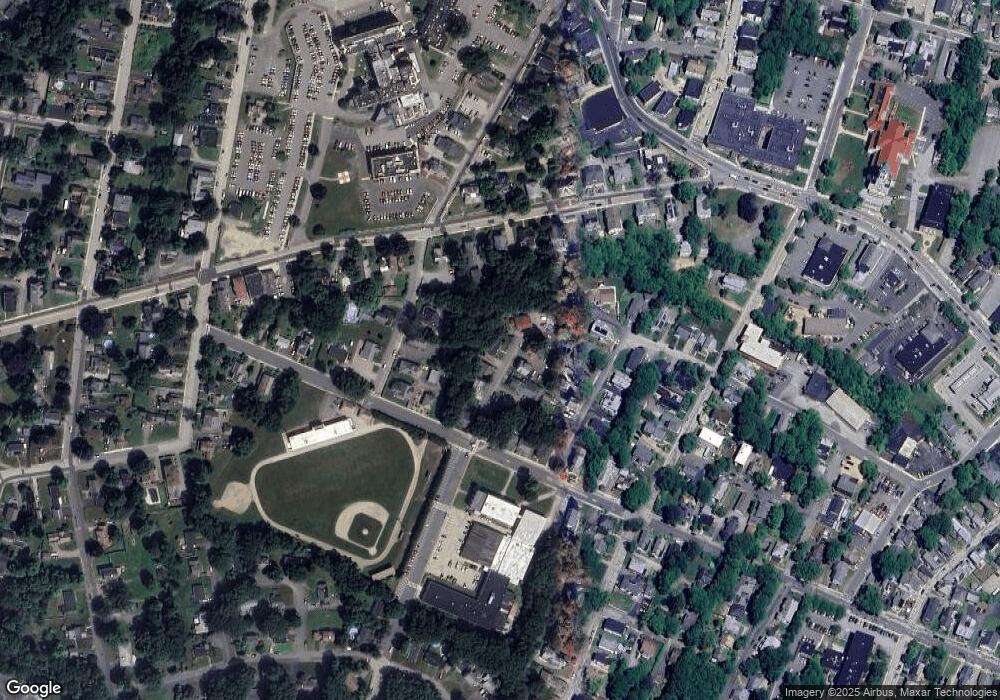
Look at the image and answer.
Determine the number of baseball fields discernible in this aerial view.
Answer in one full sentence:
Just 1 baseball field appears in this view.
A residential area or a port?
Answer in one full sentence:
This looks like a residential area.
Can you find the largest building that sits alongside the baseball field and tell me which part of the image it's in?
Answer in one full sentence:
You can find the largest building that sits alongside the baseball field in the bottom area of the picture.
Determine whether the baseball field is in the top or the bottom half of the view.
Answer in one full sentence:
You can find the baseball field in the bottom half.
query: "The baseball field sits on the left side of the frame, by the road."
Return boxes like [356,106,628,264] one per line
[248,424,427,559]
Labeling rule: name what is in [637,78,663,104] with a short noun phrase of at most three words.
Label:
house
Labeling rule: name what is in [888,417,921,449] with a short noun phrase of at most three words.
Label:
building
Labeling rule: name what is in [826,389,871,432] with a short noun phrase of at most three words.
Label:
shed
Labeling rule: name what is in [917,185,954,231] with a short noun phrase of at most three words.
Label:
building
